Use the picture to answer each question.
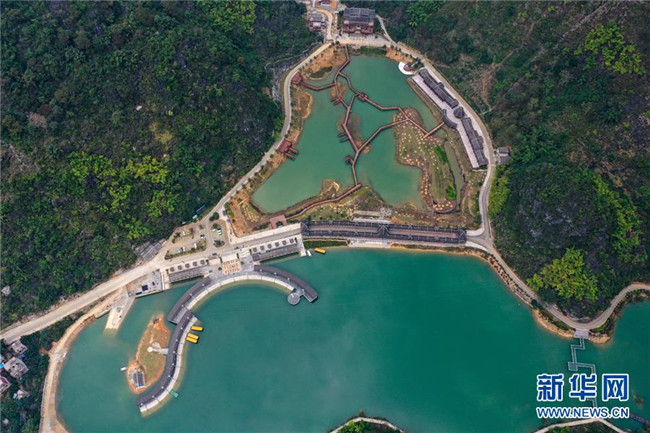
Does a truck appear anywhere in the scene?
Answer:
No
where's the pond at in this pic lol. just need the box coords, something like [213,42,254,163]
[251,52,446,214]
